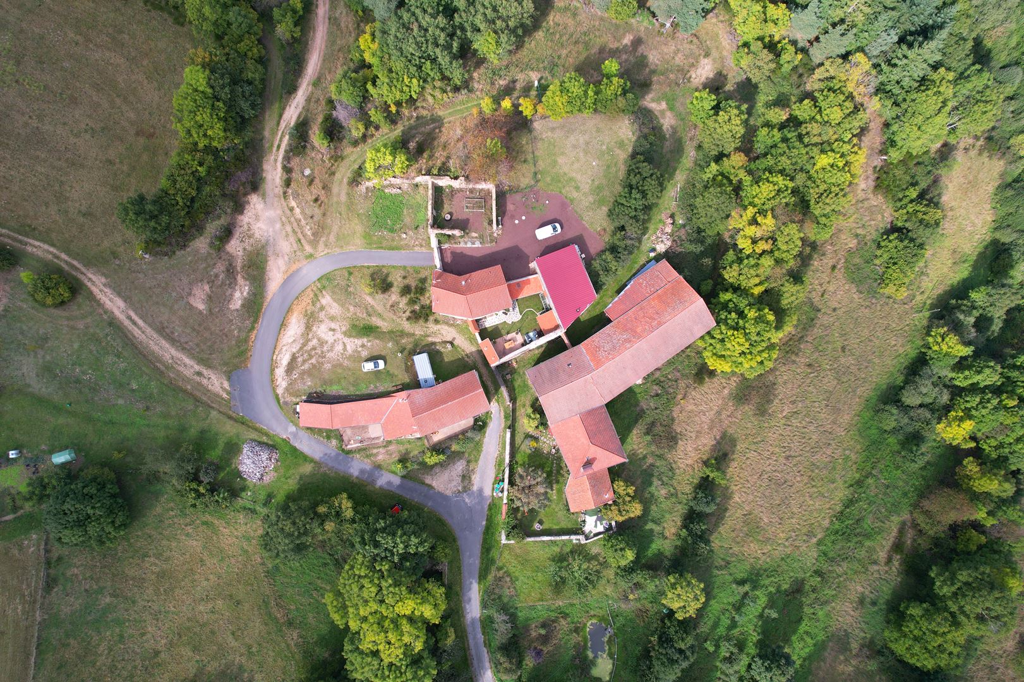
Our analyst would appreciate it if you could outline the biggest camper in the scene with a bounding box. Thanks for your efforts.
[413,349,435,386]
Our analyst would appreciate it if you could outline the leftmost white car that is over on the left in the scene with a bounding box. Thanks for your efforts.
[362,359,385,371]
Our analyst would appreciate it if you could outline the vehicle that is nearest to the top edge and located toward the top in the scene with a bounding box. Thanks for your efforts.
[534,224,561,241]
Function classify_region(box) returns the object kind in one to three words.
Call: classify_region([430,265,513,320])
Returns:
house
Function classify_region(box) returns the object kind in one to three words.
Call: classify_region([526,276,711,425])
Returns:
barn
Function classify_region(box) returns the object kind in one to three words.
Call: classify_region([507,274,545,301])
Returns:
shed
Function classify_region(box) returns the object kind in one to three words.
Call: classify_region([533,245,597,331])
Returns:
barn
